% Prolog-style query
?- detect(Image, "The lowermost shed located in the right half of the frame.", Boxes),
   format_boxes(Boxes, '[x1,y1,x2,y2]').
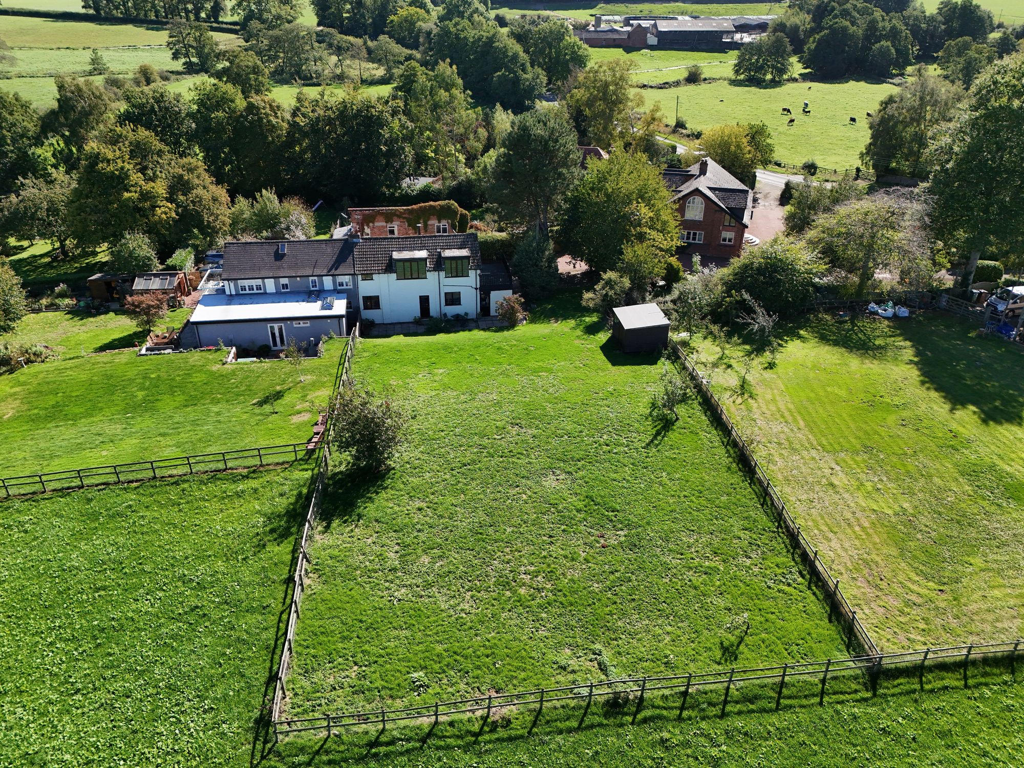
[612,302,673,352]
